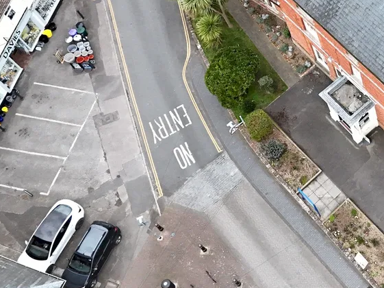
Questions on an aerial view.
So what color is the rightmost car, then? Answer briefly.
black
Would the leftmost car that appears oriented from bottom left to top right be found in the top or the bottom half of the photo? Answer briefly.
bottom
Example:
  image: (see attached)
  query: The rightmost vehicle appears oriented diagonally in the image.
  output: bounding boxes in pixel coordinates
[65,217,125,288]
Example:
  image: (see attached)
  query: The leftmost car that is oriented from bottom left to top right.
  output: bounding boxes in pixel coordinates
[25,197,90,274]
